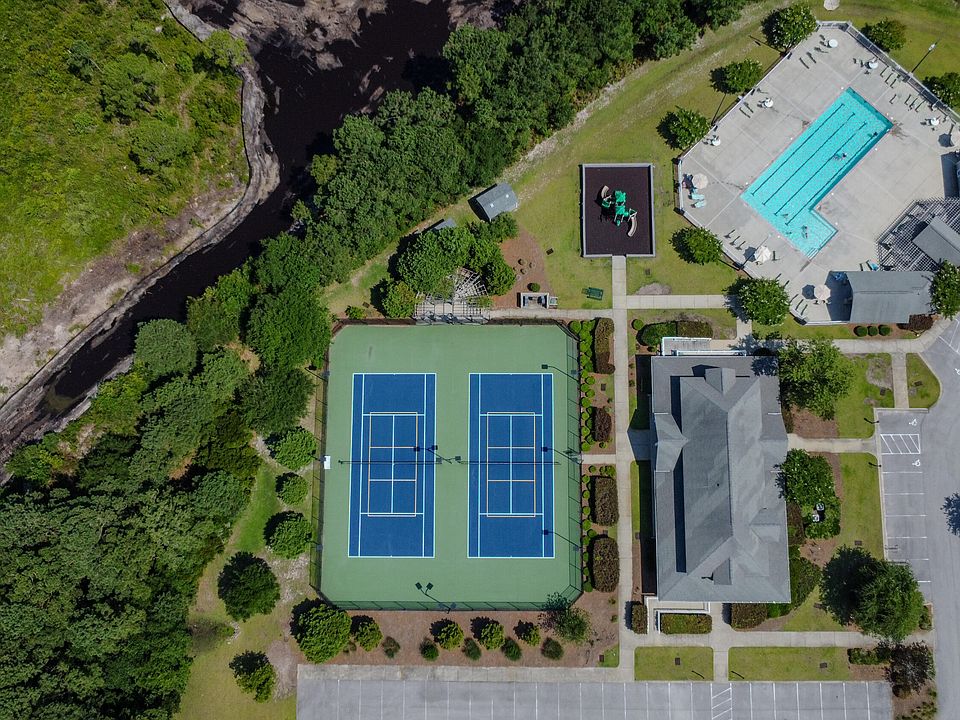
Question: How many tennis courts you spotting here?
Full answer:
The count of tennis courts comes to 2.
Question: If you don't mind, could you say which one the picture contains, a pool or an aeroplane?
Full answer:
The image shows a pool.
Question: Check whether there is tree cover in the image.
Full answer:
Yes, there is tree cover in the image.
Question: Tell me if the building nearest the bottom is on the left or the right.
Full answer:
The building nearest the bottom is on the right side of the image.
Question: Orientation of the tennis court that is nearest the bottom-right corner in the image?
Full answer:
The tennis court that is nearest the bottom-right corner is oriented up and down.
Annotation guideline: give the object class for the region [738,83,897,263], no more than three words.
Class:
swimming pool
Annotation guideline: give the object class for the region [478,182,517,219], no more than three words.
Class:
shed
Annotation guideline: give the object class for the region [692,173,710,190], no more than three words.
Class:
umbrella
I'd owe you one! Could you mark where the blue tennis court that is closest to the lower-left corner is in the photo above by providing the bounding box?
[338,373,436,558]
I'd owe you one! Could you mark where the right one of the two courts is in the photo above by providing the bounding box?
[469,373,560,558]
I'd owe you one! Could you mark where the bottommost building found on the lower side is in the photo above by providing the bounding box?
[645,338,791,634]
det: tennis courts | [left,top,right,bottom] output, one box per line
[469,373,560,558]
[338,373,436,558]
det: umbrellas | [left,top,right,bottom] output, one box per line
[755,247,772,264]
[692,173,710,190]
[812,283,831,302]
[946,130,960,148]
